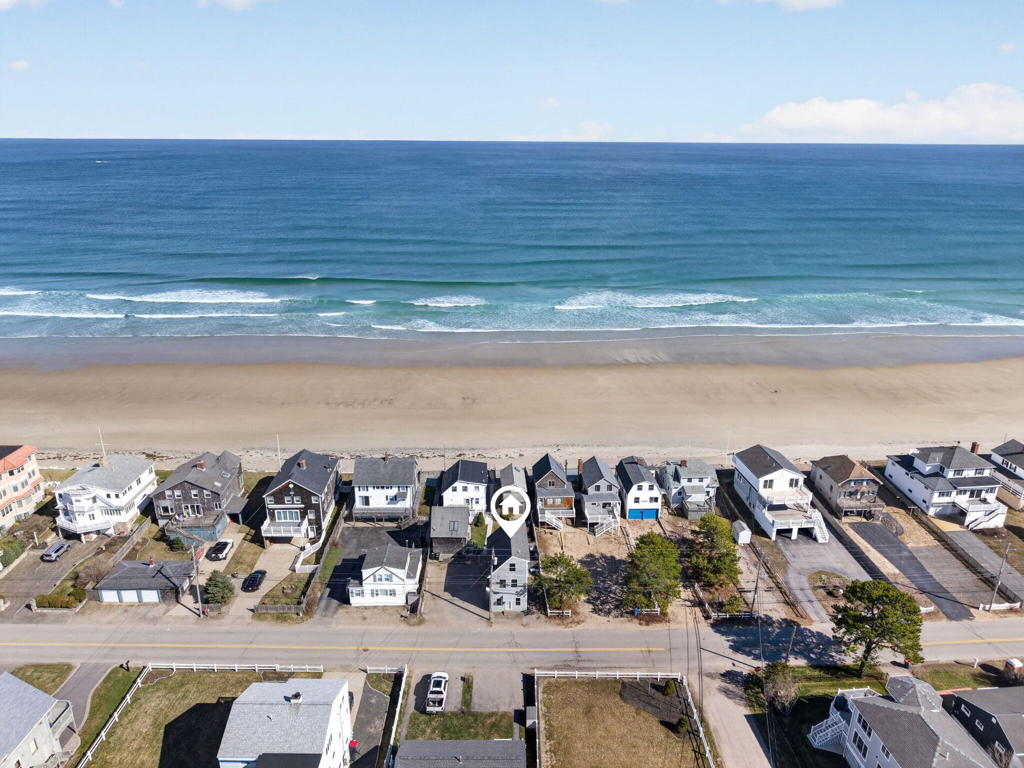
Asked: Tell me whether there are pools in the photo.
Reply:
No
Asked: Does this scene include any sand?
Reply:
Yes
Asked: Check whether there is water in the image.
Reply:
Yes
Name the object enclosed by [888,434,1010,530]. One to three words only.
house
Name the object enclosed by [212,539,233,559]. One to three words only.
car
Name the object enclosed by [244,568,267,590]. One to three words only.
car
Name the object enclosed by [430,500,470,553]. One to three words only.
shed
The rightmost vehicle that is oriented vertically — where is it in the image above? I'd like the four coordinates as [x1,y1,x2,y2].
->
[425,669,450,713]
